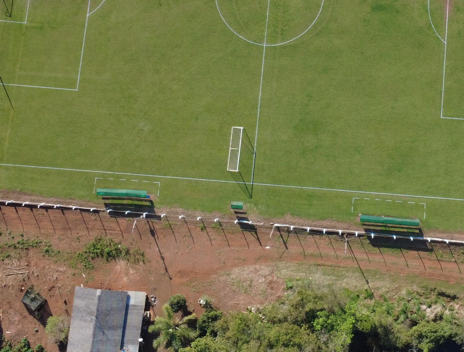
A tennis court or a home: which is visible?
home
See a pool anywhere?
No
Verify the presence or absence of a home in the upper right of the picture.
No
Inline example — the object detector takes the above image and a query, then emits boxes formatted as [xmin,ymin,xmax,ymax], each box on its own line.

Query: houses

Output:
[67,287,147,352]
[18,288,47,313]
